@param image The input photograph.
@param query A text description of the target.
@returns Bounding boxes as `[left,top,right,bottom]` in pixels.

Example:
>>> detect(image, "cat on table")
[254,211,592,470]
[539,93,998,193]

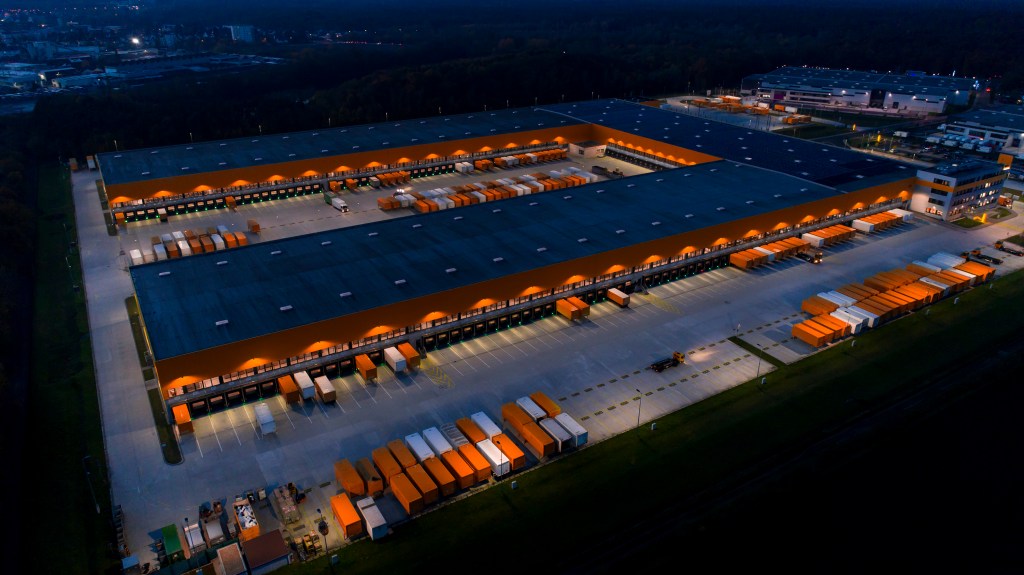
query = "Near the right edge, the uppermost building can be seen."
[740,66,983,112]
